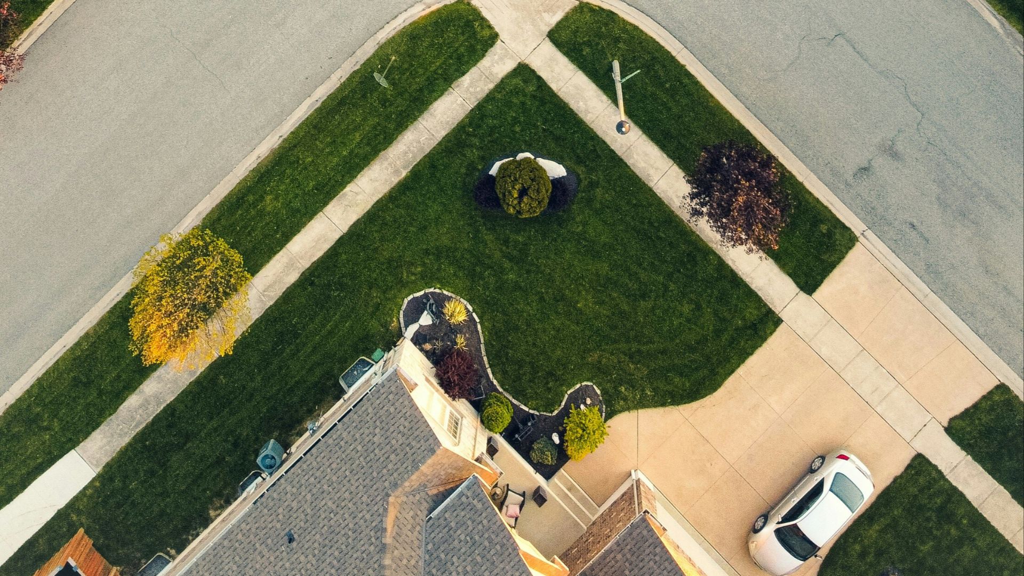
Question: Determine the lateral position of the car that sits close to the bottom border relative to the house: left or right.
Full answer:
The house has the car that sits close to the bottom border on its right side.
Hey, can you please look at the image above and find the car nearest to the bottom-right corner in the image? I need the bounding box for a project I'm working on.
[746,446,876,576]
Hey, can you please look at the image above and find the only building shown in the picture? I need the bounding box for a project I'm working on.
[170,337,743,576]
